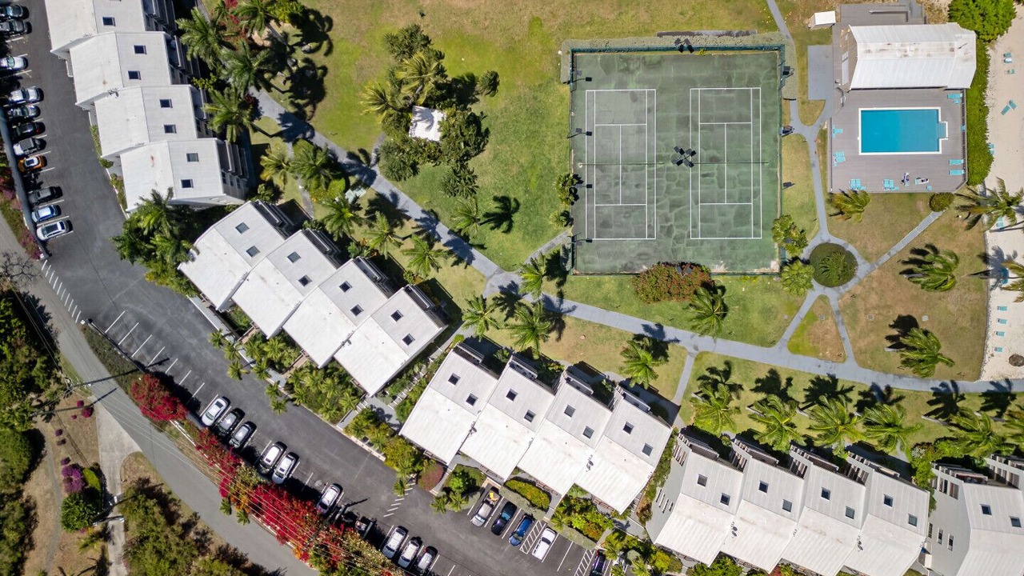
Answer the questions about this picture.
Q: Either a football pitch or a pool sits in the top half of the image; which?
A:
pool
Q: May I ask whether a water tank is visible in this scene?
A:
No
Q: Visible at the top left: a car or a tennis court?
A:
car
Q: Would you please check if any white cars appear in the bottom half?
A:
Yes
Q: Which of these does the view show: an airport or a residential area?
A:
residential area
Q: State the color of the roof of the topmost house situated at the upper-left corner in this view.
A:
white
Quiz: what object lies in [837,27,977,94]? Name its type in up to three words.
building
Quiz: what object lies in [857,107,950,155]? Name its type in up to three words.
swimming pool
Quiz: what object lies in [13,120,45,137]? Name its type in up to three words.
car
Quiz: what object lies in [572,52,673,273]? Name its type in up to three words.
tennis court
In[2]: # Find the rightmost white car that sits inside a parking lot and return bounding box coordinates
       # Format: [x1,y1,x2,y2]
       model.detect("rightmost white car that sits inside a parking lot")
[531,528,556,559]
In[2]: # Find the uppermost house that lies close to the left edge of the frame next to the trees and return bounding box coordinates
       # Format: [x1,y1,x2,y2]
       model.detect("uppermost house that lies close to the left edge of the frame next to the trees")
[38,0,174,60]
